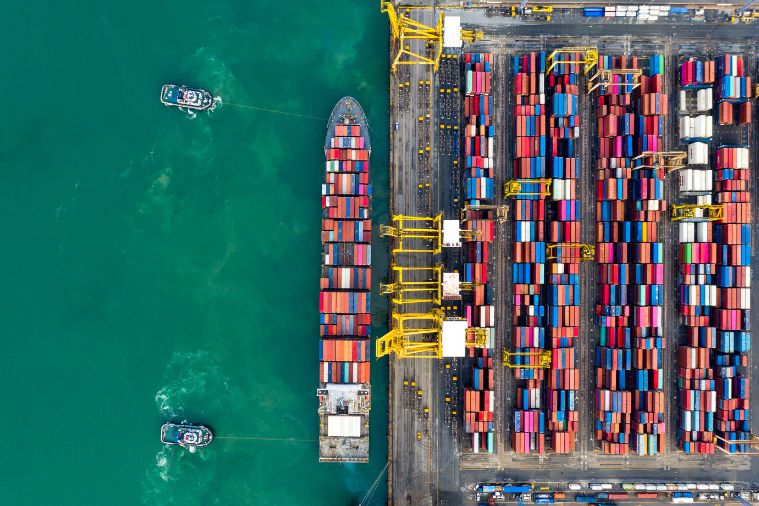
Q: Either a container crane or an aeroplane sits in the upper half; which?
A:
container crane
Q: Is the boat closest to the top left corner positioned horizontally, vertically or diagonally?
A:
horizontally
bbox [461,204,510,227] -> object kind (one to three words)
container crane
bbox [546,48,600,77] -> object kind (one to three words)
container crane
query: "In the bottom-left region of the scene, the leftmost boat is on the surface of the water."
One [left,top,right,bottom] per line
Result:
[160,422,213,447]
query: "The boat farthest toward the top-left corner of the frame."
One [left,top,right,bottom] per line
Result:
[160,83,213,111]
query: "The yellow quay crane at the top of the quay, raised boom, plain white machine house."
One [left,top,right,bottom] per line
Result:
[380,0,477,74]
